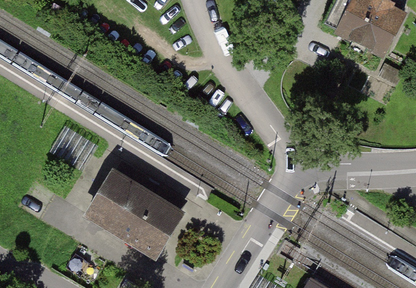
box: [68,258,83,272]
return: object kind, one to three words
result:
umbrella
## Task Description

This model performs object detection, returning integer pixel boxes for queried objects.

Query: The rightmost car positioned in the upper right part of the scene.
[307,42,331,57]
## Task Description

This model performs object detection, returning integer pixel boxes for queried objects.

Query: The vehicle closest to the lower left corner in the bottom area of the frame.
[21,197,43,213]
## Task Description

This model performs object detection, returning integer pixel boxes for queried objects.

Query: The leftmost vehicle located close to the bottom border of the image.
[234,250,252,274]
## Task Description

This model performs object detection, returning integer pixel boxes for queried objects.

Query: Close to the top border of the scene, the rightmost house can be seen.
[334,0,406,58]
